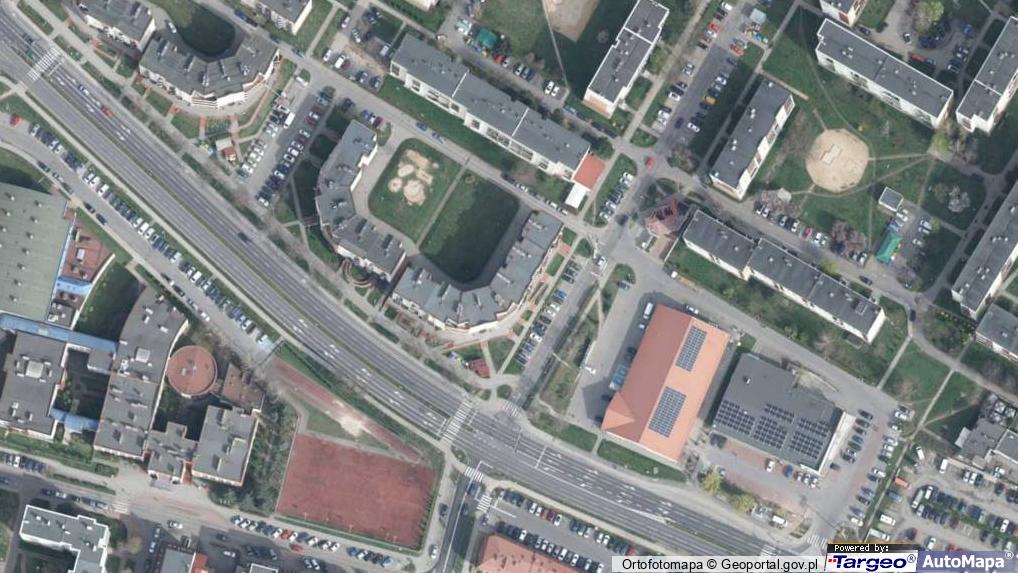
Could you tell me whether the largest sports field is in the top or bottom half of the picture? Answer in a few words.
bottom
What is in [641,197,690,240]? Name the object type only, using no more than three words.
building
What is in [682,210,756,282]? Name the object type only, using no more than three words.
building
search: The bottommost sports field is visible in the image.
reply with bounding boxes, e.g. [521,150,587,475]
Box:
[277,433,433,547]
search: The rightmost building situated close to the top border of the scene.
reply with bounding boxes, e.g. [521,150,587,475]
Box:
[954,16,1018,135]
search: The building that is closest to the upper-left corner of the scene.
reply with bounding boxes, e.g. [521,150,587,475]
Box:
[75,0,156,53]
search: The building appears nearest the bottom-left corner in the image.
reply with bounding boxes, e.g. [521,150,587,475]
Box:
[20,505,109,573]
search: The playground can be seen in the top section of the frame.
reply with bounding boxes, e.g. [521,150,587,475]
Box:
[805,129,869,190]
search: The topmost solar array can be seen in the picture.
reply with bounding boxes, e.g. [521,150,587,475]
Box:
[677,325,707,371]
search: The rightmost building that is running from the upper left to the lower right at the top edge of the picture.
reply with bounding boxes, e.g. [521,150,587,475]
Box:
[815,19,952,132]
